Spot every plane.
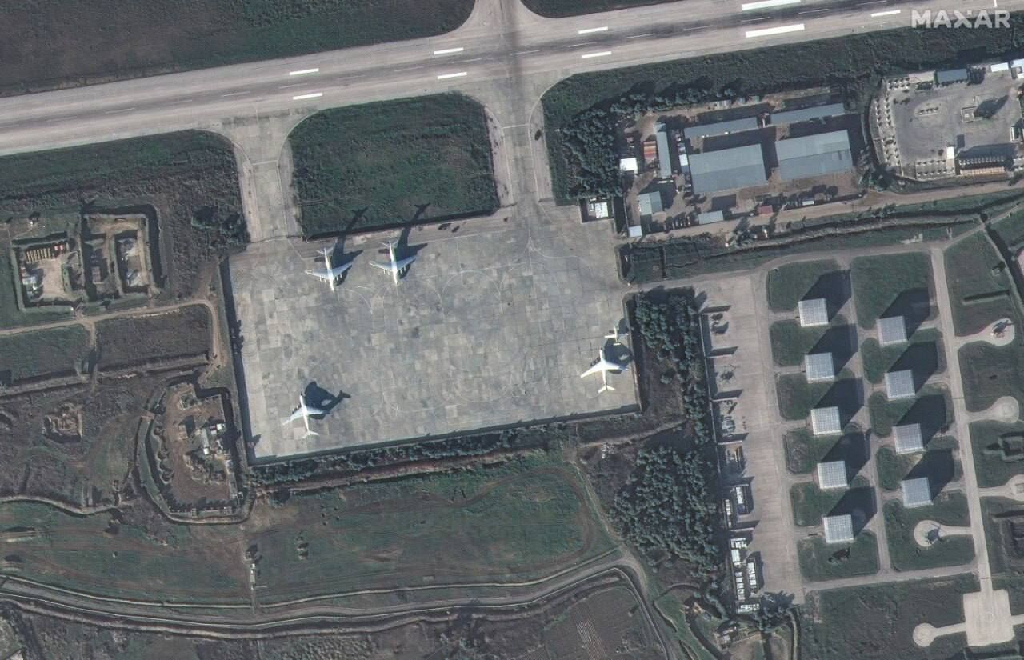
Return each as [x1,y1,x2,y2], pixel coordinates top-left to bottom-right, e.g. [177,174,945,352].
[304,246,352,292]
[282,395,330,436]
[581,349,629,391]
[604,327,628,343]
[368,241,416,286]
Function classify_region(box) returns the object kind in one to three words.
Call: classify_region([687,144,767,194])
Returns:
building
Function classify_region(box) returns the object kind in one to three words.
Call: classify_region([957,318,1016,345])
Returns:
helipad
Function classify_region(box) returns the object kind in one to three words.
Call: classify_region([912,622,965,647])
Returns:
helipad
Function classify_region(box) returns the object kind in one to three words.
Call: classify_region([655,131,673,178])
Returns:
shed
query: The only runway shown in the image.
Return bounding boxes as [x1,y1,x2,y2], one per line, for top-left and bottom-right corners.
[0,0,1024,156]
